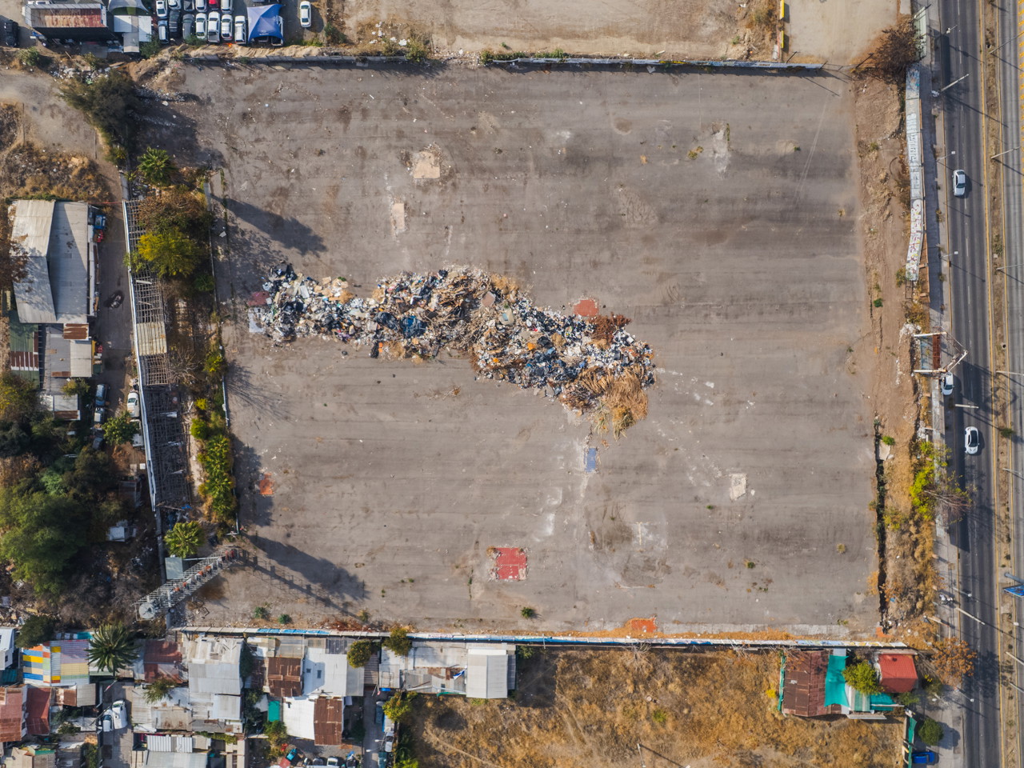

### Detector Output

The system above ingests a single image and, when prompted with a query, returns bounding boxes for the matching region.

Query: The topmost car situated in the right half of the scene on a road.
[949,168,966,199]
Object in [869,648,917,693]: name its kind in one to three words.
house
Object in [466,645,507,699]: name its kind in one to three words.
building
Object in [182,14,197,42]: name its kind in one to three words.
car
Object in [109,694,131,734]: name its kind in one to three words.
vehicle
